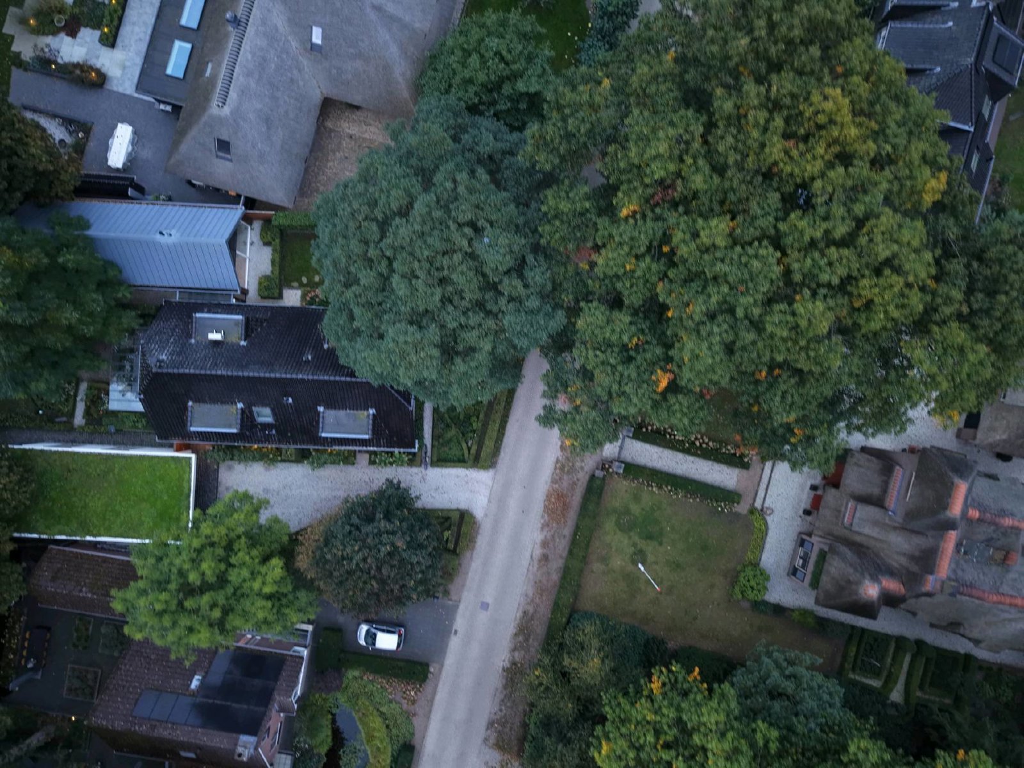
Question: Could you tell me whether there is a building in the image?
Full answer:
Yes, the photo shows a building.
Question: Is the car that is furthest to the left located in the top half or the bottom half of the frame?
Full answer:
Seen from above, the car that is furthest to the left lies in the bottom half of the view.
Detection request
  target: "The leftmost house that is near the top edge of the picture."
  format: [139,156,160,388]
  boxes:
[136,0,454,207]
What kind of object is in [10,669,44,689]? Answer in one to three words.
umbrella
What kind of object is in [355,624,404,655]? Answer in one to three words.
car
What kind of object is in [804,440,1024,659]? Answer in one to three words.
house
